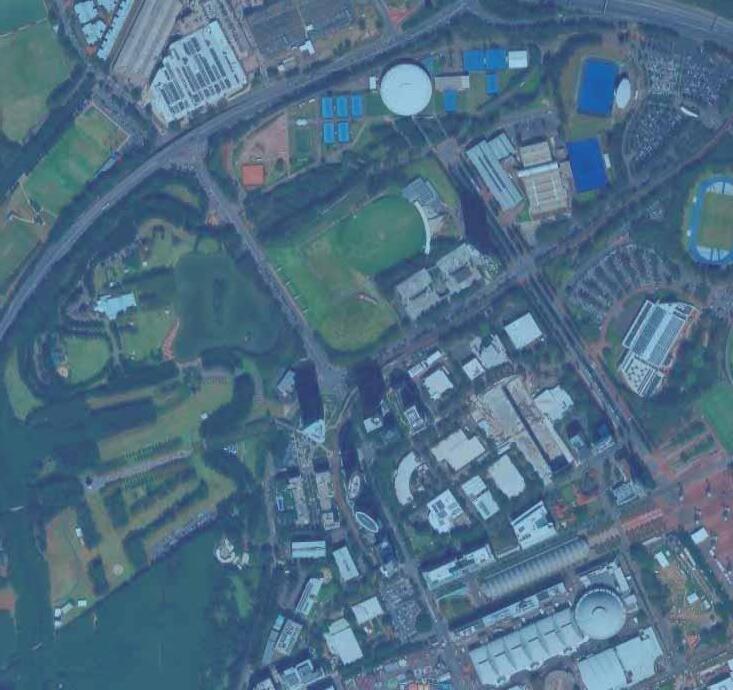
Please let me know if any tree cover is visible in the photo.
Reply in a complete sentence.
Yes, tree cover shows up in the scene.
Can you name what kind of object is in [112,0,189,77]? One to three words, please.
building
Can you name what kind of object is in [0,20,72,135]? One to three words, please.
sports field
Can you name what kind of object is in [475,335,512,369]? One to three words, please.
building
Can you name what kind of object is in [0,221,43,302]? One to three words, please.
sports field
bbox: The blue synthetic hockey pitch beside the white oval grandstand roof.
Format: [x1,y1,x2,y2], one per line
[577,56,621,117]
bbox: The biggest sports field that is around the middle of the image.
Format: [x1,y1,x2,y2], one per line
[264,196,428,352]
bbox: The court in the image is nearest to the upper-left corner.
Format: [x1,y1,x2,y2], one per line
[243,165,265,187]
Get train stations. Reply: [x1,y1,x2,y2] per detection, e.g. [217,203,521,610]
[467,527,593,602]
